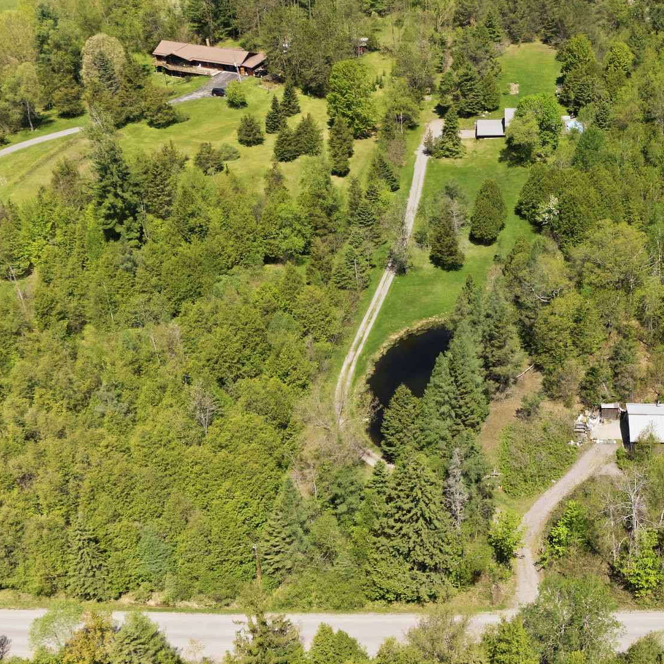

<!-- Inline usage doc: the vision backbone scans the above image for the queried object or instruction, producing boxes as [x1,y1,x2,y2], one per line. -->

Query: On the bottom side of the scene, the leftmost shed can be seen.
[600,400,622,419]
